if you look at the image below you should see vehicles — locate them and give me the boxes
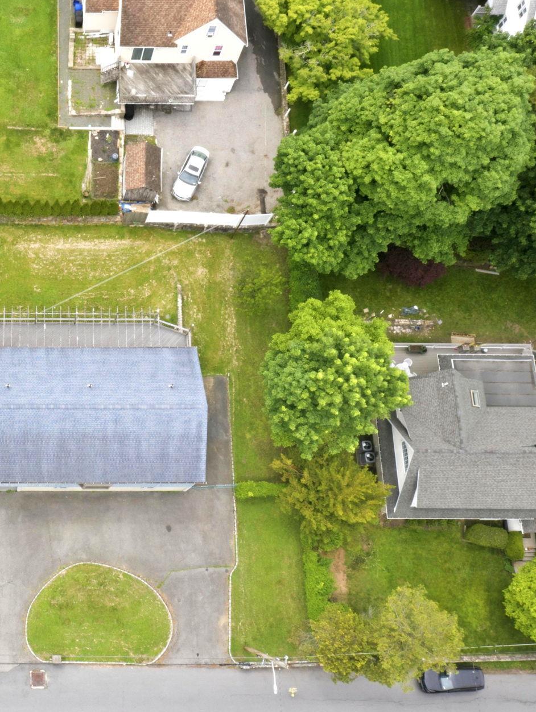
[414,662,488,699]
[173,146,208,204]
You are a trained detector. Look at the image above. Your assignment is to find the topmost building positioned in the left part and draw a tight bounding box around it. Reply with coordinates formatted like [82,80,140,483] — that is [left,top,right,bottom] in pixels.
[83,0,247,113]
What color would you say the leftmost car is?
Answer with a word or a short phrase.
white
